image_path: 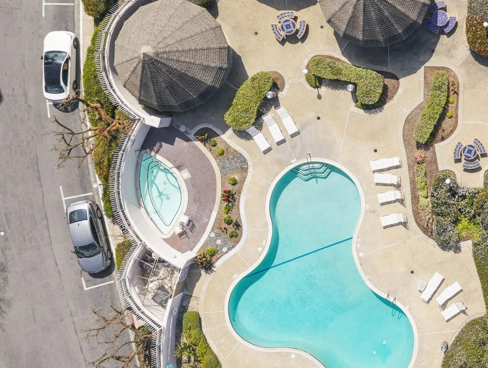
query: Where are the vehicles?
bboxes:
[66,197,111,274]
[40,31,79,102]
